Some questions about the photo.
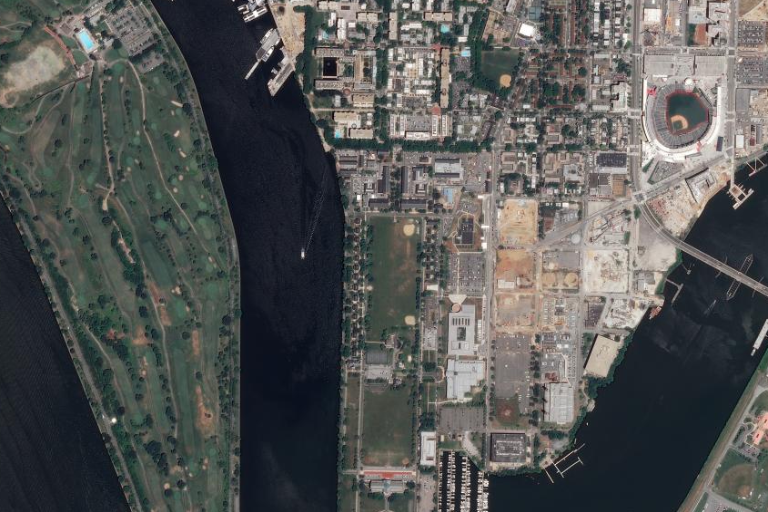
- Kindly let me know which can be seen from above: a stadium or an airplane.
stadium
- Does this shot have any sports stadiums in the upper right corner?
Yes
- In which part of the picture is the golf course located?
left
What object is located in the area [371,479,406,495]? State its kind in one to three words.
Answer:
building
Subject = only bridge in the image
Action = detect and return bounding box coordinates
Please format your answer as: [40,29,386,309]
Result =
[642,202,768,295]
